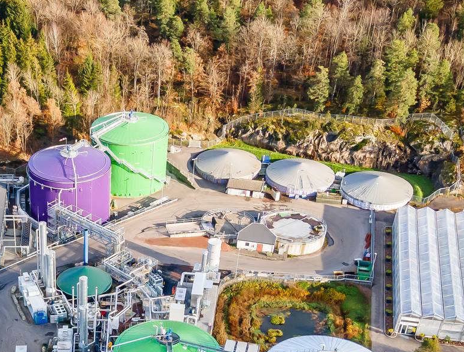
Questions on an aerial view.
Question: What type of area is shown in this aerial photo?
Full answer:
This looks like an industrial area.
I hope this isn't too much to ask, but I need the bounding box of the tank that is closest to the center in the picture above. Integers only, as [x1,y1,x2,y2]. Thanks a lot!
[194,152,261,190]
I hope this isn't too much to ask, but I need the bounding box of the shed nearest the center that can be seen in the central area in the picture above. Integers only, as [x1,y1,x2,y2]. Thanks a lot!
[226,175,267,198]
